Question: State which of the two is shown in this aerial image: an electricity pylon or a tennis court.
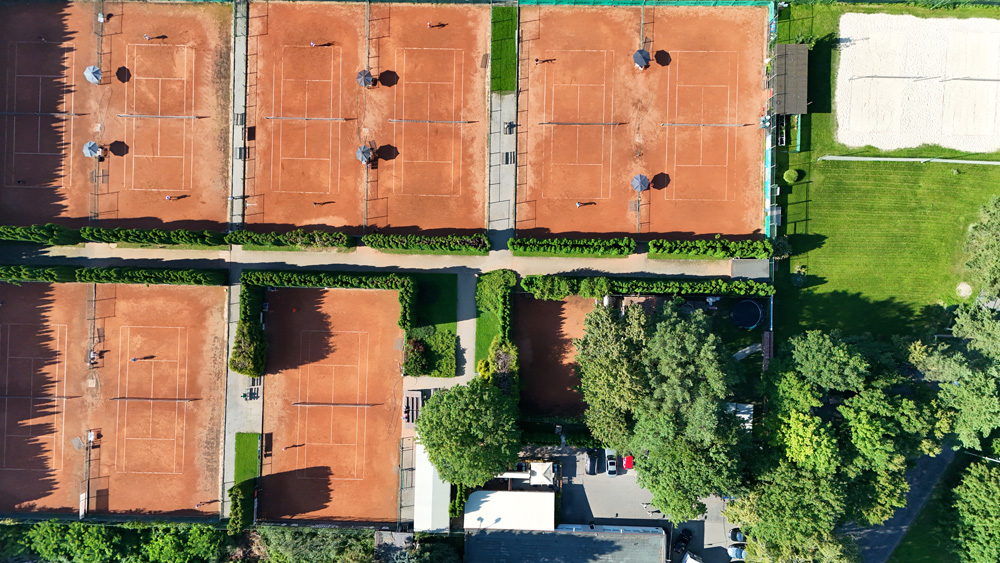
tennis court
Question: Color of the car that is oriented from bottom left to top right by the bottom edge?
black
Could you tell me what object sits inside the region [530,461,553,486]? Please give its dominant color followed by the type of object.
white gazebo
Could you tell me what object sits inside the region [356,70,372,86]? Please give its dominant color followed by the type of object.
gray umbrella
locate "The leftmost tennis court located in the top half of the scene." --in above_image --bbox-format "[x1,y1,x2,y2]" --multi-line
[0,3,101,228]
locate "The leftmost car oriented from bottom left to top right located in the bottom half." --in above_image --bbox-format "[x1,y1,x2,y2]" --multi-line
[672,527,695,555]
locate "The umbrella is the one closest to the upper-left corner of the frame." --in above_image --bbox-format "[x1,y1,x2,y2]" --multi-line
[84,65,102,83]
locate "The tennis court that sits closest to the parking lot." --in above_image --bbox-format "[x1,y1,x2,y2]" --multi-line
[512,292,602,418]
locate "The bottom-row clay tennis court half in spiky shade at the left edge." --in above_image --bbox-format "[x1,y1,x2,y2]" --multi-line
[0,281,94,512]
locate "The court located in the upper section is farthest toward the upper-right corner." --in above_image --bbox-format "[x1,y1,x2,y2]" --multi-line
[836,13,1000,153]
